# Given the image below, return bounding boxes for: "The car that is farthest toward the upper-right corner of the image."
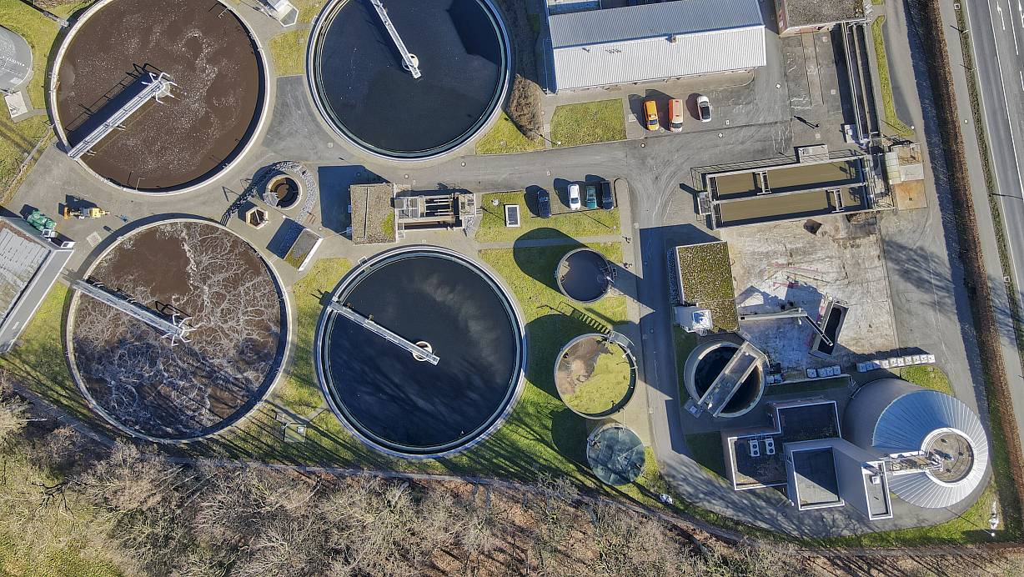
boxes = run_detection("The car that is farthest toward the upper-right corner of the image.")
[696,93,713,122]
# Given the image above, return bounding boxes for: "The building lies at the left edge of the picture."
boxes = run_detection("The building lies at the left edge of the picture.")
[0,224,83,363]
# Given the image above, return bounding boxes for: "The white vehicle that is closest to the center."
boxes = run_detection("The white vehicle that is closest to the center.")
[568,183,582,210]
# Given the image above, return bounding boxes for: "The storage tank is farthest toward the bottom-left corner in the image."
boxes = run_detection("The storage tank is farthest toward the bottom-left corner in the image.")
[55,218,292,442]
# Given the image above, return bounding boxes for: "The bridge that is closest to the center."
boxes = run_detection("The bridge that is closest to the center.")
[321,297,440,365]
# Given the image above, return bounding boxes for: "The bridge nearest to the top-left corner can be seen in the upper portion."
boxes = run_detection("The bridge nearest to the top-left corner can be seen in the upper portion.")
[65,77,168,160]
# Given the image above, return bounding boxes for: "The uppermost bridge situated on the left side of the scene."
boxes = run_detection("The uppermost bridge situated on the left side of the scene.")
[370,0,421,81]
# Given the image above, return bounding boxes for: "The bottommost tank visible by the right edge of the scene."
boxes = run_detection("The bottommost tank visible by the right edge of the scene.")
[842,380,995,508]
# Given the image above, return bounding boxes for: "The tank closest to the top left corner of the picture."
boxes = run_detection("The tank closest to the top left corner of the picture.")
[0,22,38,101]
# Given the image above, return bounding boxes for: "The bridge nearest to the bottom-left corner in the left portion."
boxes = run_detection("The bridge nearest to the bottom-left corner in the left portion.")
[70,281,188,341]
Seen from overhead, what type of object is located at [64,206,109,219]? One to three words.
vehicle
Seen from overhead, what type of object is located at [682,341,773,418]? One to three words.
storage tank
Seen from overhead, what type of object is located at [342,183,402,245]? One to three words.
building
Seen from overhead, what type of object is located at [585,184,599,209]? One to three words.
car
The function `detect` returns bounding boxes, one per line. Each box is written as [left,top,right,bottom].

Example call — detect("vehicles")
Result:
[536,188,551,217]
[600,179,616,210]
[668,96,684,132]
[568,183,582,210]
[644,97,661,130]
[64,206,109,219]
[696,93,713,122]
[585,184,599,209]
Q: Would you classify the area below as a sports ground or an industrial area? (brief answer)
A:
industrial area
